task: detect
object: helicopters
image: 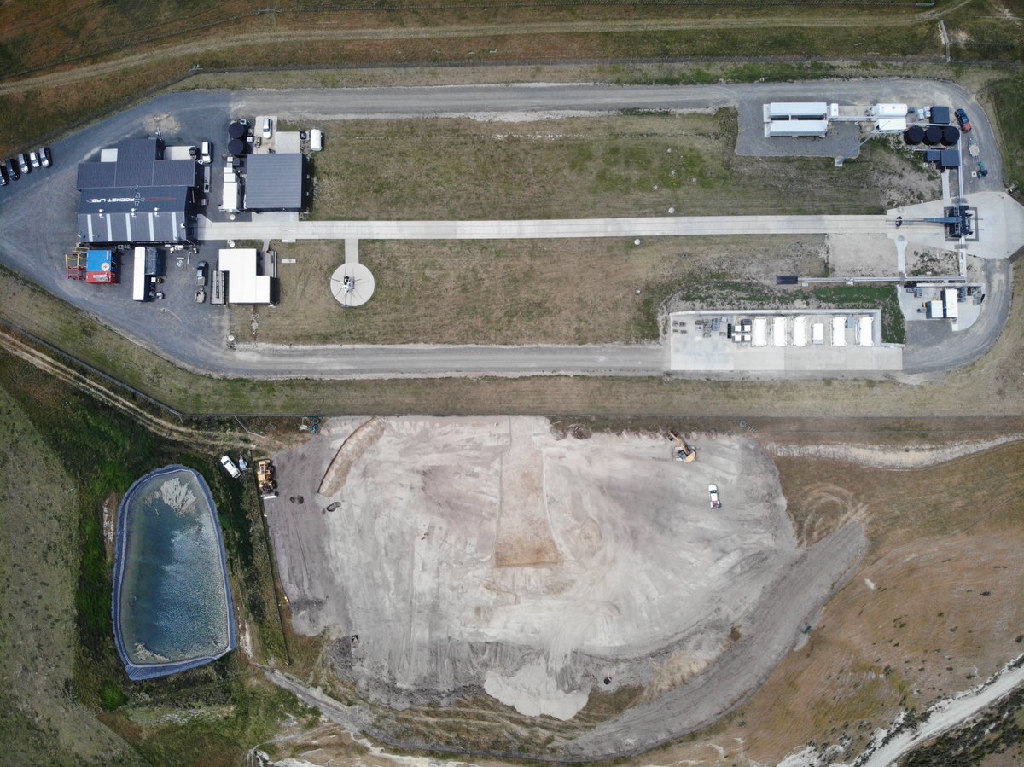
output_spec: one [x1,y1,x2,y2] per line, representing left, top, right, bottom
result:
[328,267,362,307]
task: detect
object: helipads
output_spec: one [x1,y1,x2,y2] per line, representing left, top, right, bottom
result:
[330,239,375,307]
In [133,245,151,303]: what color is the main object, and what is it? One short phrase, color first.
white trailer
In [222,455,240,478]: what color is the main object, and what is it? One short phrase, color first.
white vehicle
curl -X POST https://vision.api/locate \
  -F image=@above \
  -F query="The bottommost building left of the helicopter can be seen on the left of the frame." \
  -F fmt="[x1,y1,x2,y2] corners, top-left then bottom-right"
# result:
[219,249,274,306]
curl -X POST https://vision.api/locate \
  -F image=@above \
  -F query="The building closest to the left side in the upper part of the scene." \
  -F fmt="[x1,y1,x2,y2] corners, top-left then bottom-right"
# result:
[76,137,202,247]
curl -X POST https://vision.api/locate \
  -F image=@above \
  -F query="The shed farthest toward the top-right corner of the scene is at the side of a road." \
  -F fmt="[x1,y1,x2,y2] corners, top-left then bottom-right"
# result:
[925,106,949,127]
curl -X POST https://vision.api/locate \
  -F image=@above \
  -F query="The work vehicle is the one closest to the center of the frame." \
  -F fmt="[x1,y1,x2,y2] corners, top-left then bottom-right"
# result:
[666,429,696,463]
